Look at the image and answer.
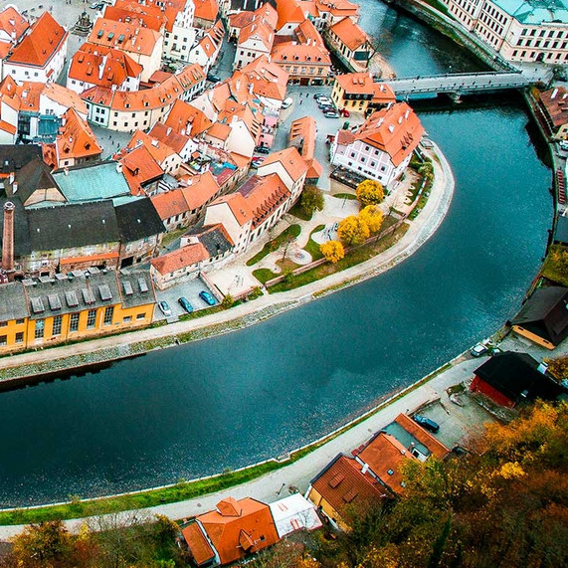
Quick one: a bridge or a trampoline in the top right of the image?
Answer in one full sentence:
Looking in the top right of the image, you will find a bridge.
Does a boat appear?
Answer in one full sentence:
No, there appears to be no boat in this shot.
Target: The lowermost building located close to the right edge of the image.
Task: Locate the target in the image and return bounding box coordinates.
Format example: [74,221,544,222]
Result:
[482,353,568,407]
